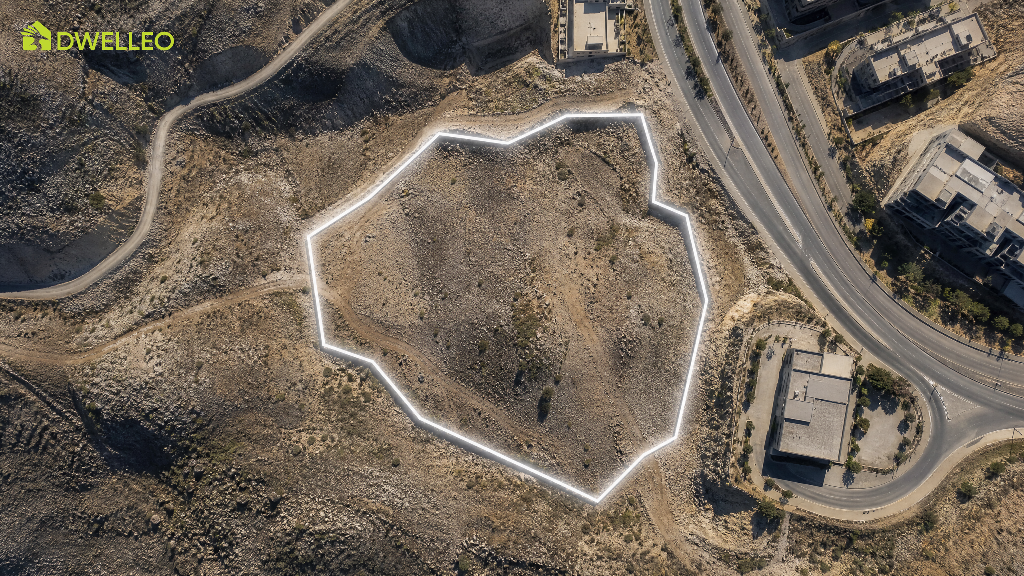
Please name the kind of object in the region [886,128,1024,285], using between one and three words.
building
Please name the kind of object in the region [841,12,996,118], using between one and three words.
building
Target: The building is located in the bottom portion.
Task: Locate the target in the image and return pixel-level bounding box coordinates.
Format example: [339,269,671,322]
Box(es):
[769,349,852,469]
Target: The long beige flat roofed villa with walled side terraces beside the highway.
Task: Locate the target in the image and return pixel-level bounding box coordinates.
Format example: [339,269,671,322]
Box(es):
[559,0,626,62]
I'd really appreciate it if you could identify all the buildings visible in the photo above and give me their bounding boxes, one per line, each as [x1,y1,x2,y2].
[559,0,626,62]
[769,349,852,469]
[841,12,996,118]
[886,128,1024,285]
[768,0,905,46]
